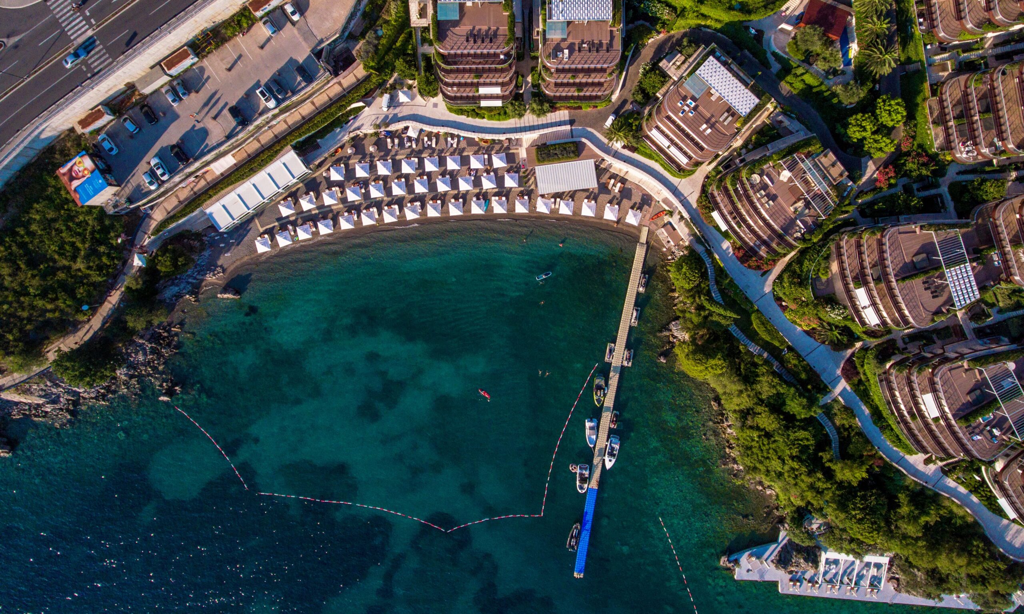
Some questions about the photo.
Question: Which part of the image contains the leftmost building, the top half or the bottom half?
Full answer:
It is in the top half that the leftmost building appears.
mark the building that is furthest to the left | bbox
[77,107,116,132]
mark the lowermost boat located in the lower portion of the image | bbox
[568,524,580,555]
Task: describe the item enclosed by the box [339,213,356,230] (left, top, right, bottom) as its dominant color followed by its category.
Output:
white umbrella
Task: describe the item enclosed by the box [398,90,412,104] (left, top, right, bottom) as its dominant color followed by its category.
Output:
white umbrella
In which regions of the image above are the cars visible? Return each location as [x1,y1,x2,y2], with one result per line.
[137,102,157,126]
[160,84,179,107]
[170,77,189,100]
[62,47,86,67]
[118,113,138,135]
[292,61,312,86]
[226,102,246,126]
[255,84,275,109]
[266,76,286,100]
[97,132,117,156]
[282,0,301,22]
[259,15,278,38]
[168,142,188,166]
[149,156,169,180]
